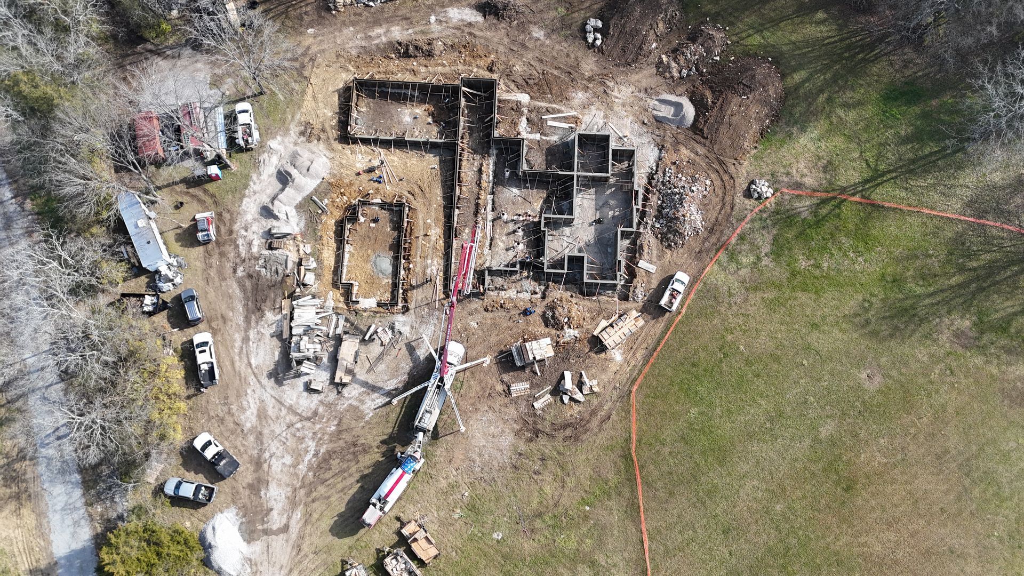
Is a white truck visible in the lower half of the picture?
Yes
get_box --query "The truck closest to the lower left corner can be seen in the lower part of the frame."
[164,475,222,505]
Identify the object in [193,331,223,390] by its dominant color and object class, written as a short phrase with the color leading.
white truck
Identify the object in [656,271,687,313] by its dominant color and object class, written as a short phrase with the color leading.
white truck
